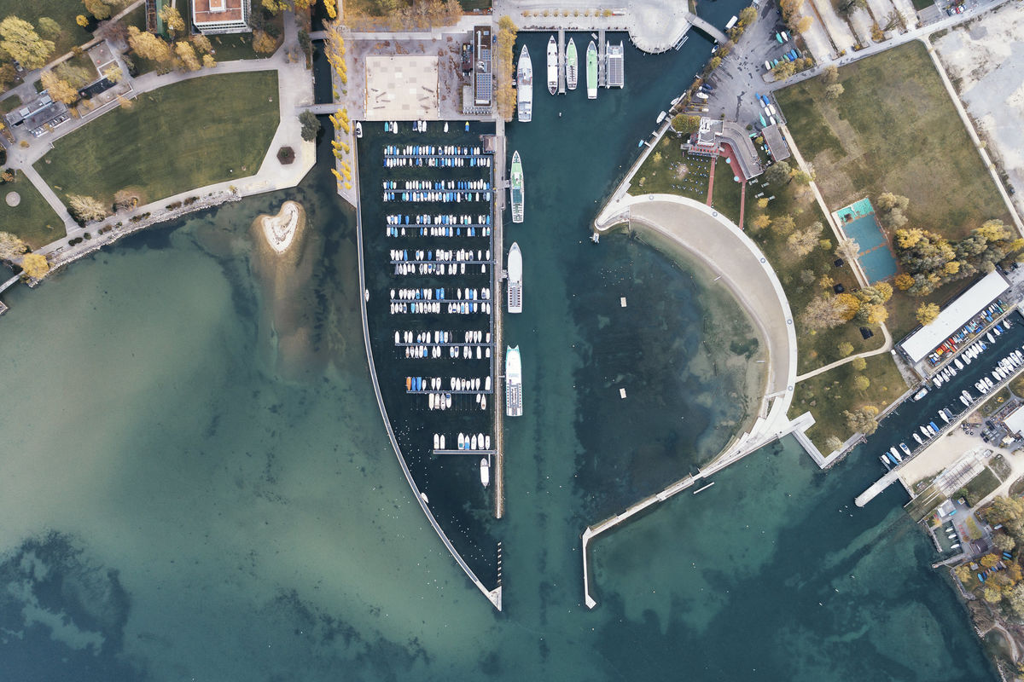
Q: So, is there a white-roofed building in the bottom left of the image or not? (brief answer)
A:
No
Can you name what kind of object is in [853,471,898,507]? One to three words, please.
pier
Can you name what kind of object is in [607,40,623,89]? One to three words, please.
ship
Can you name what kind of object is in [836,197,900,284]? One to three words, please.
sports court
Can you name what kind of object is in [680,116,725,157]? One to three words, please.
house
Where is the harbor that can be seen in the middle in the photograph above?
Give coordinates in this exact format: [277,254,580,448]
[355,120,511,612]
